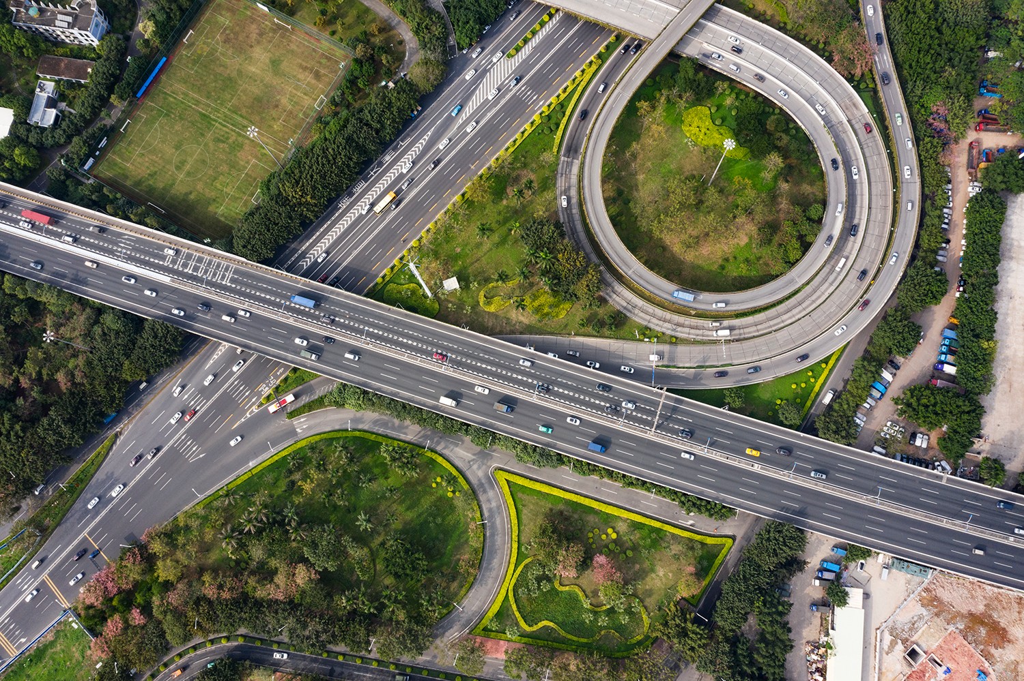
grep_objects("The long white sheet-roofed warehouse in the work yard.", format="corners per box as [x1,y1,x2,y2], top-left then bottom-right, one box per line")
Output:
[820,606,864,681]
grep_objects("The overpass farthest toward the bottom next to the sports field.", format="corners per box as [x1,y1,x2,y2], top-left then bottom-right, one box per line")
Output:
[0,182,1024,591]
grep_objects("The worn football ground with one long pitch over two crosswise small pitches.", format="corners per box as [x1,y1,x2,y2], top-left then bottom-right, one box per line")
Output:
[82,0,351,243]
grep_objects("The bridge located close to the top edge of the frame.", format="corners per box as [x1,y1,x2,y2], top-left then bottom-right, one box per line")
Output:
[487,0,695,54]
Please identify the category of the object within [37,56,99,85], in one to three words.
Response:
house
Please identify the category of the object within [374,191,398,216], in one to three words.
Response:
bus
